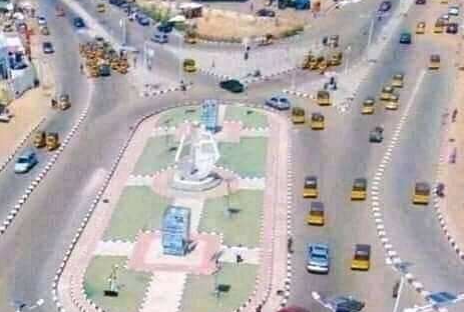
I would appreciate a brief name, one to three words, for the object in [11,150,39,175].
car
